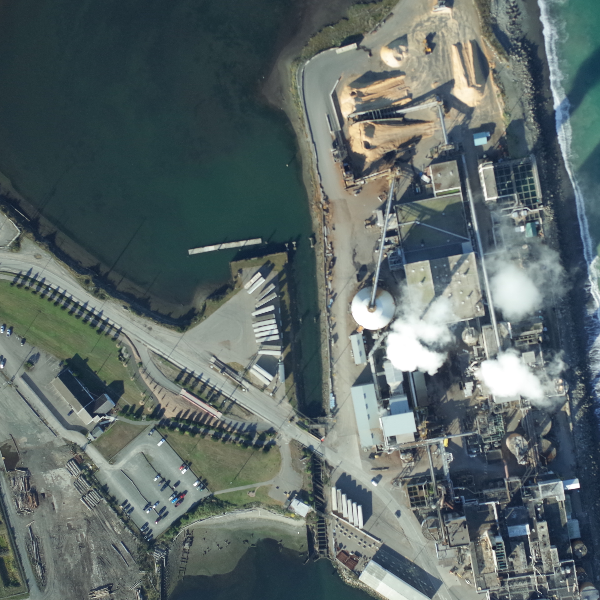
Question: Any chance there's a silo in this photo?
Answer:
Yes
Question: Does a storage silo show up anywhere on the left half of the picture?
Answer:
No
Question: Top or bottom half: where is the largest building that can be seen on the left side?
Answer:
bottom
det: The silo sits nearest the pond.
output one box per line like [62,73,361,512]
[351,286,395,330]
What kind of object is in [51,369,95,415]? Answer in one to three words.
building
